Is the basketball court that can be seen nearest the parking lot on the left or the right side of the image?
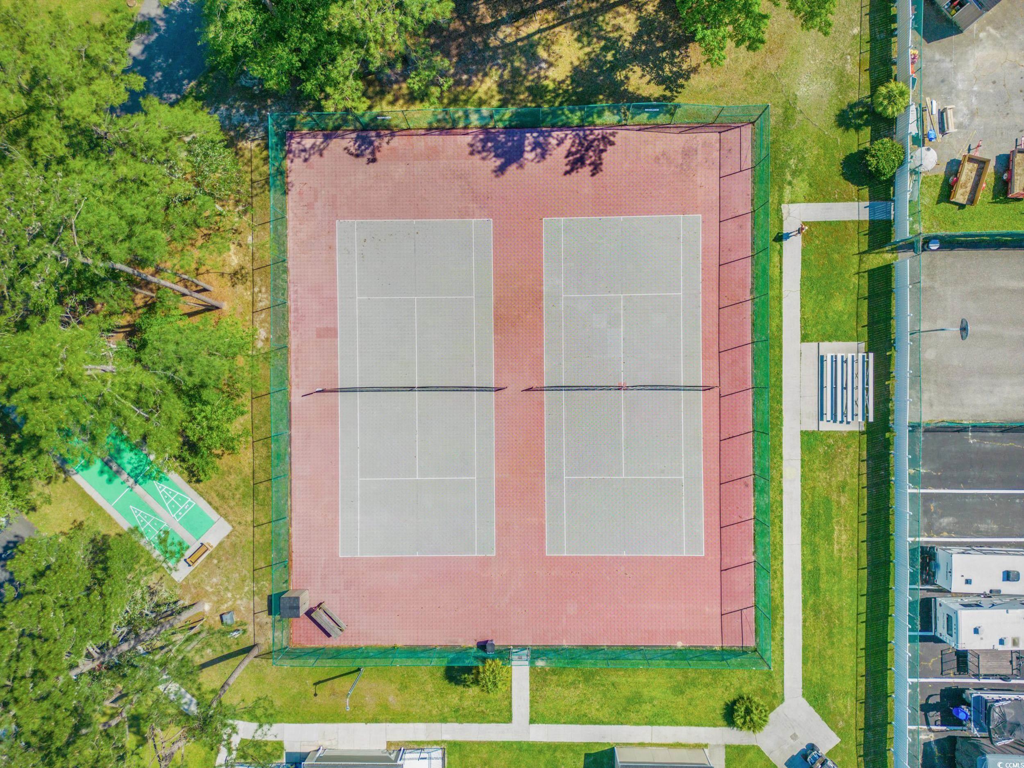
right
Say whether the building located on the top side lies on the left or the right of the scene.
right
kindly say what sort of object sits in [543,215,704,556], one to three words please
tennis court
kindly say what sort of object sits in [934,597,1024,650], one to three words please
trailer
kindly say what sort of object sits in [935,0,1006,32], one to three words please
building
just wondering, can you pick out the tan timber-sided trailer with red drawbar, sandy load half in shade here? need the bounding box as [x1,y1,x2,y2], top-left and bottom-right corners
[944,139,991,209]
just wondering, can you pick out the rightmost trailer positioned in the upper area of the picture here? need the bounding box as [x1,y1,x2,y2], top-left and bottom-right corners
[994,132,1024,201]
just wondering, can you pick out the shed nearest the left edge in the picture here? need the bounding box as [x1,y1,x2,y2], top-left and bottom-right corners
[277,590,309,618]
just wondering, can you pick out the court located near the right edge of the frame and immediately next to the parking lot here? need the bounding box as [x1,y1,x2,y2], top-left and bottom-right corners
[897,241,1024,423]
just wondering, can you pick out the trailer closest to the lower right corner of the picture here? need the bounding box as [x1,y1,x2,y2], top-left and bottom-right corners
[956,650,1024,682]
